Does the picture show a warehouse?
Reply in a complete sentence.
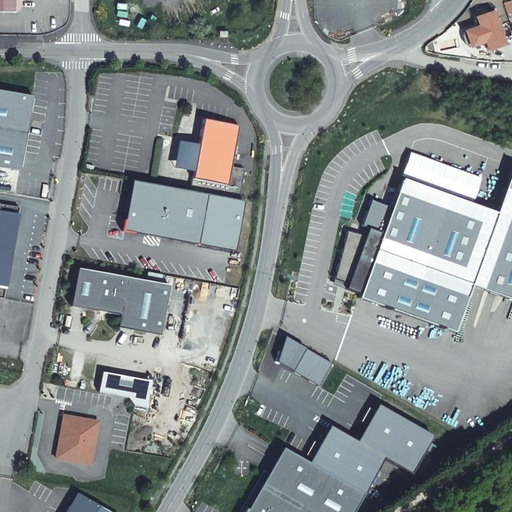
Yes, there's a warehouse here.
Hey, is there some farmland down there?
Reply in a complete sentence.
No, farmland can't be seen anywhere here.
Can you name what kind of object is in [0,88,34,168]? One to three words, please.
building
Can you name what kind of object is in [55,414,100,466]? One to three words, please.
house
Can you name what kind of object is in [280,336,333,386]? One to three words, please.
shed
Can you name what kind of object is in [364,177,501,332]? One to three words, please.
warehouse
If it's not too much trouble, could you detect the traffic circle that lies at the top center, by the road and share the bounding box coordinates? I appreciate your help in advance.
[252,37,345,130]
